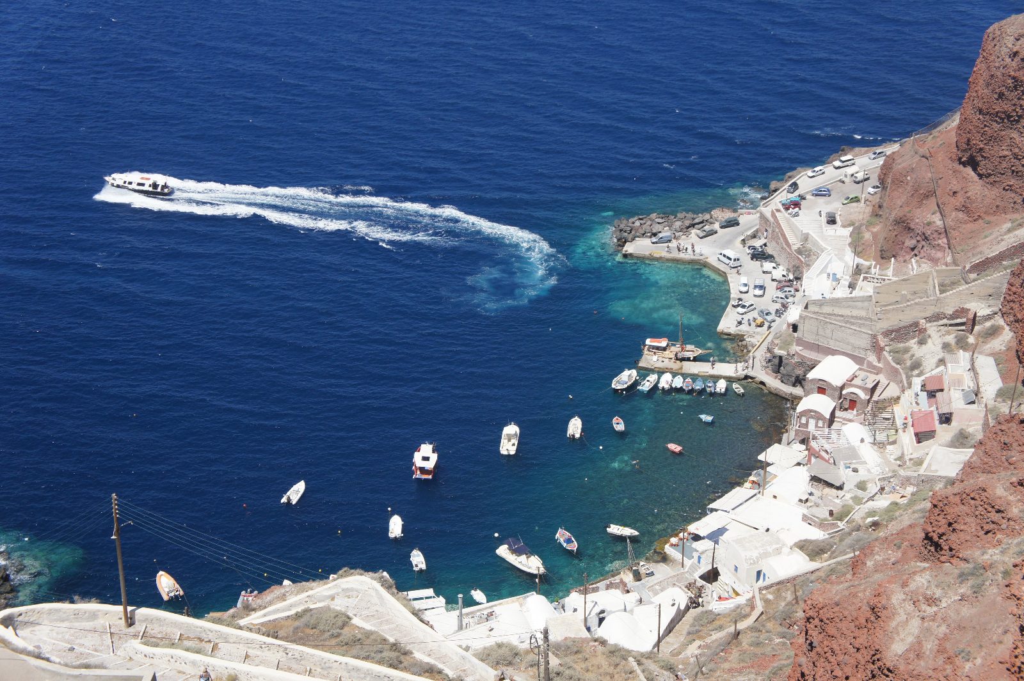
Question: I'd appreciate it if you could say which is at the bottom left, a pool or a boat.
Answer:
boat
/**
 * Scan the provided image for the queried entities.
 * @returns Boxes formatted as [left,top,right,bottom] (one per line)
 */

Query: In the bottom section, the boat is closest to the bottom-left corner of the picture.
[156,571,184,602]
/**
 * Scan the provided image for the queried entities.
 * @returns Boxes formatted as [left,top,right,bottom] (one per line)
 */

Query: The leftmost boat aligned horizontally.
[104,169,177,204]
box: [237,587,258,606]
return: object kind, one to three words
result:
boat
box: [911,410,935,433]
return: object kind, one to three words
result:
shed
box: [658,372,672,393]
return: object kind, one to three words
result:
boat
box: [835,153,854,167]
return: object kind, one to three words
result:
car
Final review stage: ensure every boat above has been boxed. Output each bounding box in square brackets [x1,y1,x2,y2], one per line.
[715,378,727,396]
[666,445,684,455]
[104,169,177,204]
[557,525,576,554]
[568,416,583,442]
[734,383,744,395]
[412,439,437,484]
[705,379,714,396]
[281,480,305,505]
[389,515,402,541]
[671,374,683,392]
[237,587,258,606]
[469,585,486,604]
[156,571,184,602]
[699,414,716,425]
[604,522,638,537]
[499,423,518,459]
[614,416,624,435]
[410,548,426,574]
[693,377,703,394]
[645,299,711,362]
[683,377,693,393]
[492,535,544,574]
[658,372,672,393]
[611,365,636,393]
[636,373,656,395]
